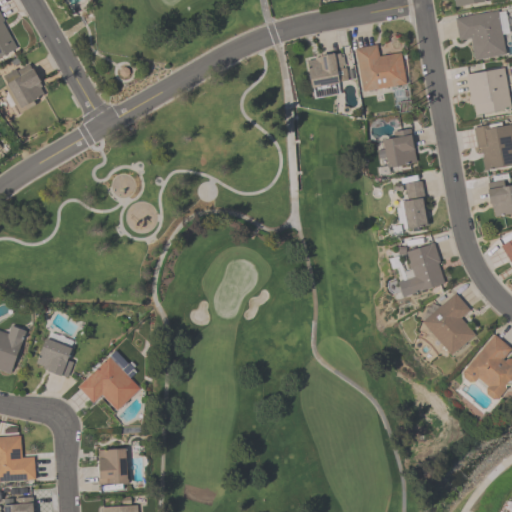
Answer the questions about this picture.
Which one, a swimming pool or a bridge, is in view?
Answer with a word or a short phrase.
swimming pool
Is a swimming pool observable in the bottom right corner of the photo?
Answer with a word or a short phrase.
Yes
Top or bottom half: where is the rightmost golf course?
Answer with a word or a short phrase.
bottom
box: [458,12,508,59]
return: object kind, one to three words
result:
house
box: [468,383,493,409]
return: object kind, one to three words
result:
swimming pool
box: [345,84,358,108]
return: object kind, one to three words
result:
swimming pool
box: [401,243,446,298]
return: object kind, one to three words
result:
house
